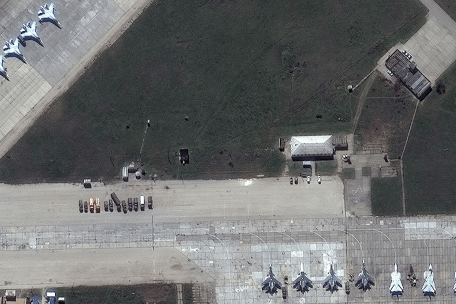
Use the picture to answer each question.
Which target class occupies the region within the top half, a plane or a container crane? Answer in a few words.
plane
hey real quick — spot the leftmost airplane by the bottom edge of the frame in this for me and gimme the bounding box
[261,264,281,292]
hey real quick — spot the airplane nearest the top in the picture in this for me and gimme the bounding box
[36,0,61,24]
